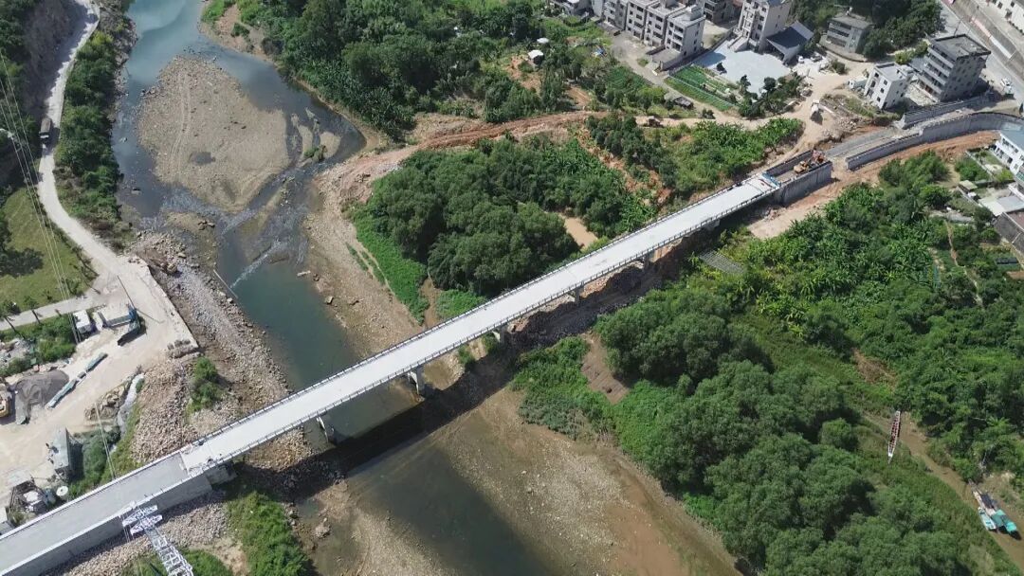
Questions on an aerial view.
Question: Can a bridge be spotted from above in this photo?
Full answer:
Yes, a bridge appears in the view.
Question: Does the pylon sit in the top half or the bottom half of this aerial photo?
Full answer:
Seen from above, the pylon lies in the bottom half of the view.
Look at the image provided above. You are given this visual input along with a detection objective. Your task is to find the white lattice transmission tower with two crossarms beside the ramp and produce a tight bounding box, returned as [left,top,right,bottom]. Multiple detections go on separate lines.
[120,508,198,576]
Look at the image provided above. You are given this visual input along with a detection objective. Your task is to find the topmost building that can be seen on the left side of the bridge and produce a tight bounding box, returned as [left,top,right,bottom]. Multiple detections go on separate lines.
[72,308,95,335]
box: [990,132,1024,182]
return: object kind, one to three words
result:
house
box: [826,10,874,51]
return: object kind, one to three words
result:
house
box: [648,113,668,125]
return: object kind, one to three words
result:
vehicle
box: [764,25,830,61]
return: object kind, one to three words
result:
building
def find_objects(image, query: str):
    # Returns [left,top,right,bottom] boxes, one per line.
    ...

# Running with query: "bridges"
[179,171,781,482]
